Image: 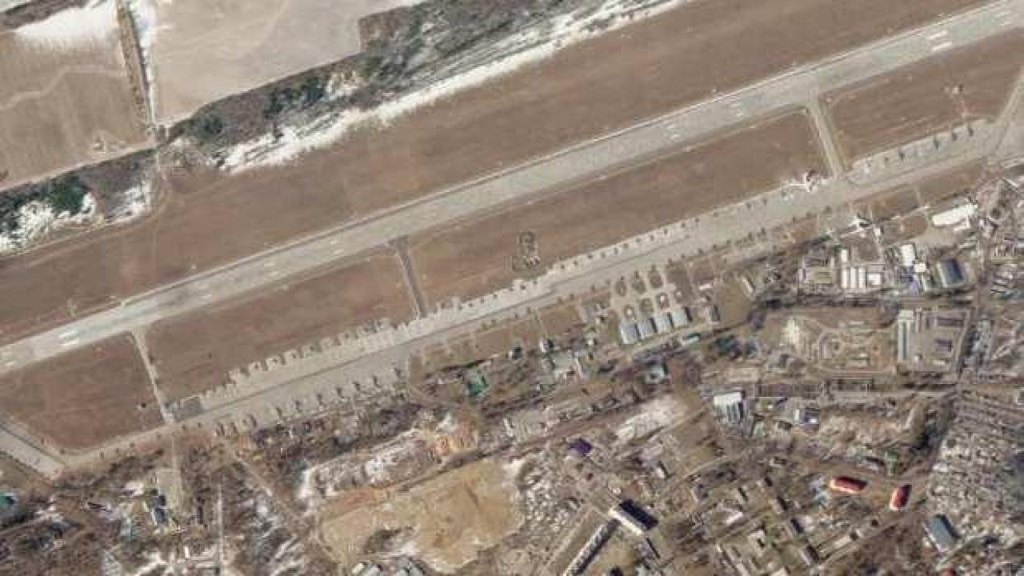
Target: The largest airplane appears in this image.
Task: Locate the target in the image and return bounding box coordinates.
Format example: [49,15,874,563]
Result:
[792,170,814,195]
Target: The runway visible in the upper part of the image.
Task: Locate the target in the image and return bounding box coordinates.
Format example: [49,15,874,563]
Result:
[0,0,1024,373]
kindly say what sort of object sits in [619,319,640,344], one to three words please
hangar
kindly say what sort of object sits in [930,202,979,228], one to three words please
hangar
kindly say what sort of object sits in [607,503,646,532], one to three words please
building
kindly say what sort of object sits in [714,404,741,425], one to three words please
shed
